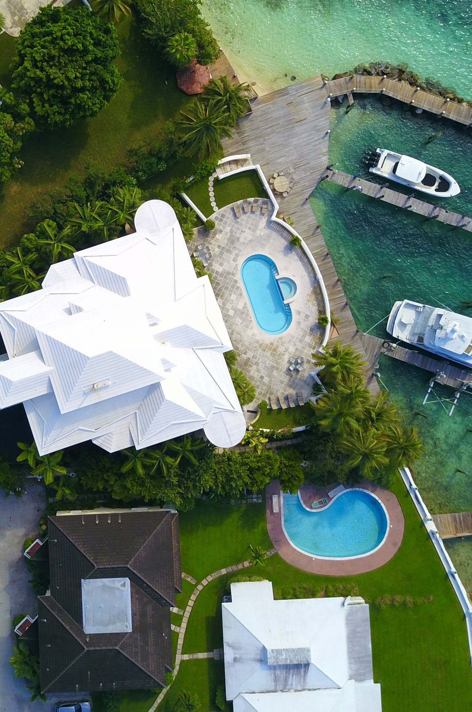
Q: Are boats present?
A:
Yes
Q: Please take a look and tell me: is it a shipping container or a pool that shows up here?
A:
pool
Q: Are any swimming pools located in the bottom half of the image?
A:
Yes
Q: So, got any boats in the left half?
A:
No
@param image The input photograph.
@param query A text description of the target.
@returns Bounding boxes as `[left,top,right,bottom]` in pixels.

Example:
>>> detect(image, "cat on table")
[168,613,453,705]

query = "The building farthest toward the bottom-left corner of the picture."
[14,507,182,695]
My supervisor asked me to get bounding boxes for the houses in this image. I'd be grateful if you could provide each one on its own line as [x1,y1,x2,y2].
[0,198,248,457]
[14,507,182,695]
[222,579,373,700]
